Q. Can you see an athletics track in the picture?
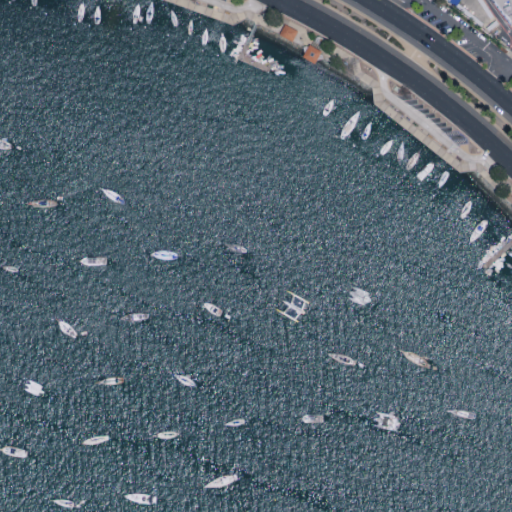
No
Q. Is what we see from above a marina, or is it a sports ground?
marina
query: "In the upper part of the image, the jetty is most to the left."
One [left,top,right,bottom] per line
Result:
[240,24,270,73]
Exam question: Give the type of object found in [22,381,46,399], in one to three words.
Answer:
boat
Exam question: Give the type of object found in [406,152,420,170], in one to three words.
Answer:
boat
